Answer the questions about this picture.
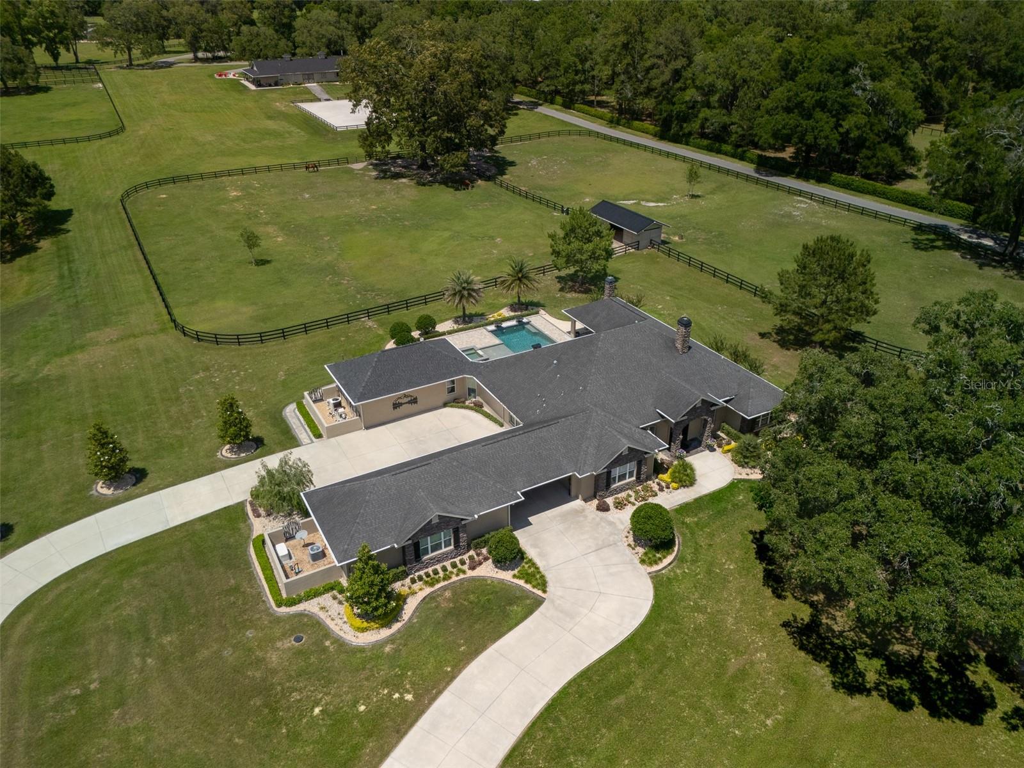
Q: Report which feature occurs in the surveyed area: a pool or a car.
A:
pool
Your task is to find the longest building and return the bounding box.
[299,274,799,583]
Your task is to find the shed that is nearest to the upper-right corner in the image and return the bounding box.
[597,204,671,250]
